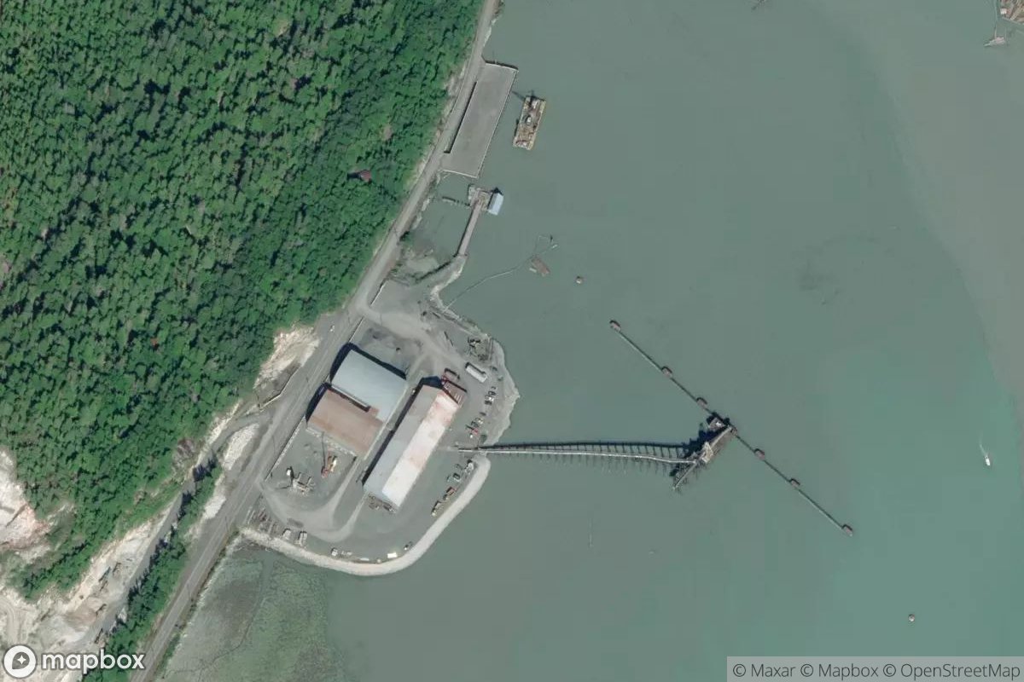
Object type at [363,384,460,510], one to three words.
shed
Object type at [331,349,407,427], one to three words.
shed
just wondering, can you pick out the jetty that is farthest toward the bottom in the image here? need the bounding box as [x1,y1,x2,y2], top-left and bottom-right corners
[462,187,491,256]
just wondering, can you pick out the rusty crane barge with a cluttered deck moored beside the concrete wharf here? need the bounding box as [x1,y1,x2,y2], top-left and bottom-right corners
[514,95,546,151]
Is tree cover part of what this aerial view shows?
Yes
